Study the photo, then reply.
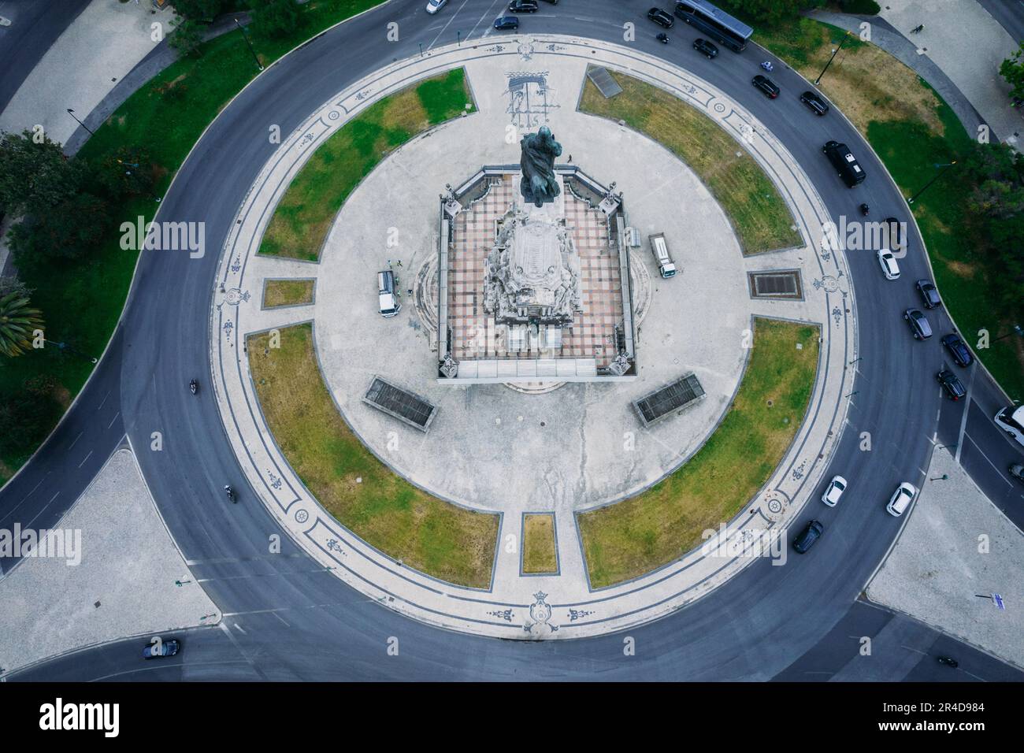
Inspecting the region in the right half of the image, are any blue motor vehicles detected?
Yes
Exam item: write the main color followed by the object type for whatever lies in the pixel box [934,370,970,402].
black car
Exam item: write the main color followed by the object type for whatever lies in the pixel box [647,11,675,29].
black car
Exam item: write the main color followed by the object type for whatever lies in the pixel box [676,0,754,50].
blue bus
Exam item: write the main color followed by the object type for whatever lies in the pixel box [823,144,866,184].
black vehicle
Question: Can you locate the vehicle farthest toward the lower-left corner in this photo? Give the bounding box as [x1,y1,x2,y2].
[140,638,183,660]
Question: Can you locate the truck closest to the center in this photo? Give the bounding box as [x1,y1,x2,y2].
[377,273,402,318]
